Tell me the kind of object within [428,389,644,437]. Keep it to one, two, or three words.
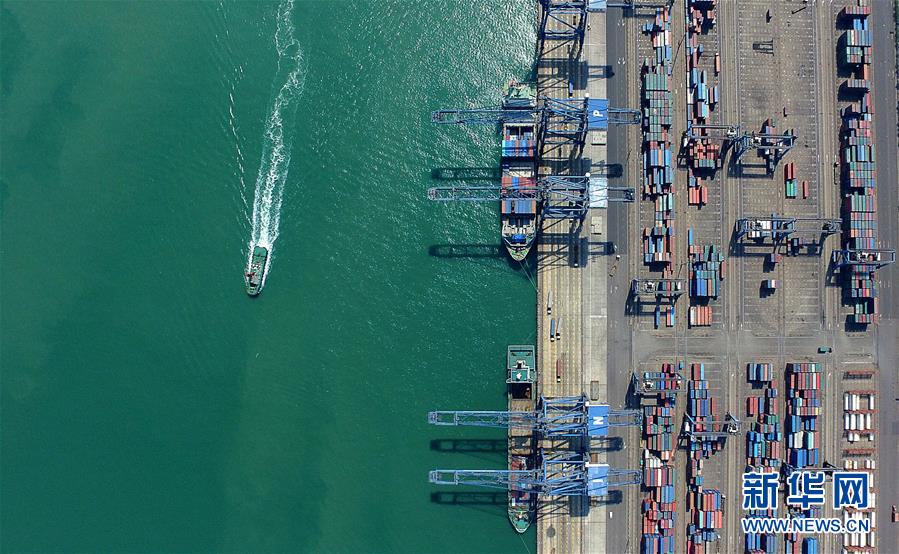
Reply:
container crane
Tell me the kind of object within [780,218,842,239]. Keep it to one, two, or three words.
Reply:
container crane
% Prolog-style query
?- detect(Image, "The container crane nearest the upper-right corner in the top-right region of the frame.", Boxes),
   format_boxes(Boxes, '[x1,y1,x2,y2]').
[732,133,792,160]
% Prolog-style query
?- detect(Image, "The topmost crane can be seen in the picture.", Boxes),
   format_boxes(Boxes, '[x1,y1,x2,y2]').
[539,0,637,44]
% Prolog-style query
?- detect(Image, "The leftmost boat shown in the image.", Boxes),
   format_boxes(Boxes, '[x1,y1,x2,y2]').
[244,248,270,295]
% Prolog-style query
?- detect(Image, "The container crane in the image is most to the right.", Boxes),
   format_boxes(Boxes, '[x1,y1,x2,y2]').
[830,248,895,269]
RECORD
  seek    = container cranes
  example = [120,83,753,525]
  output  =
[683,411,740,435]
[429,442,644,498]
[830,248,895,269]
[680,125,737,151]
[630,368,684,391]
[631,277,686,298]
[430,94,642,151]
[780,218,842,239]
[539,0,637,44]
[428,389,644,437]
[734,218,795,239]
[732,133,792,160]
[427,172,637,221]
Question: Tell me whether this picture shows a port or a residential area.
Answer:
port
